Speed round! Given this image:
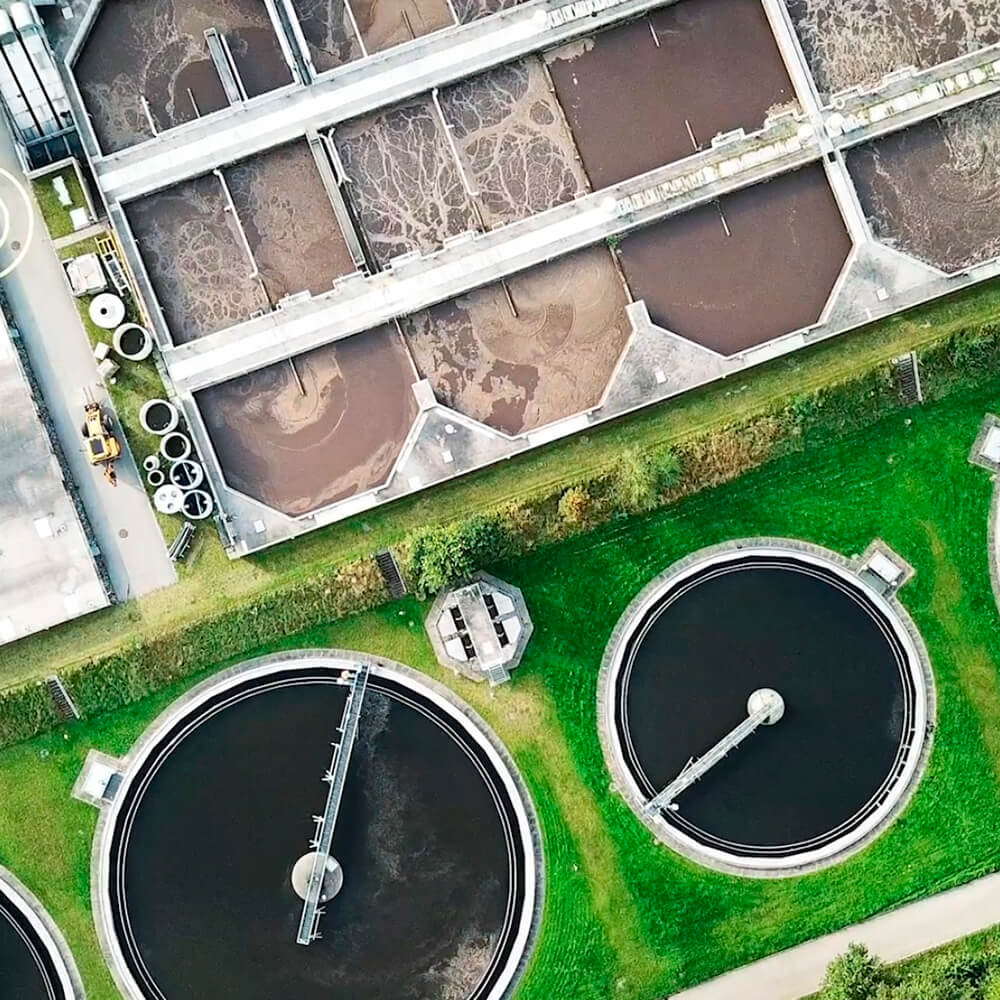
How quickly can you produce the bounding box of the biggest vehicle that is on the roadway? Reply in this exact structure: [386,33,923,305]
[77,387,123,485]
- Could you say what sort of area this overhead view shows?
industrial area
